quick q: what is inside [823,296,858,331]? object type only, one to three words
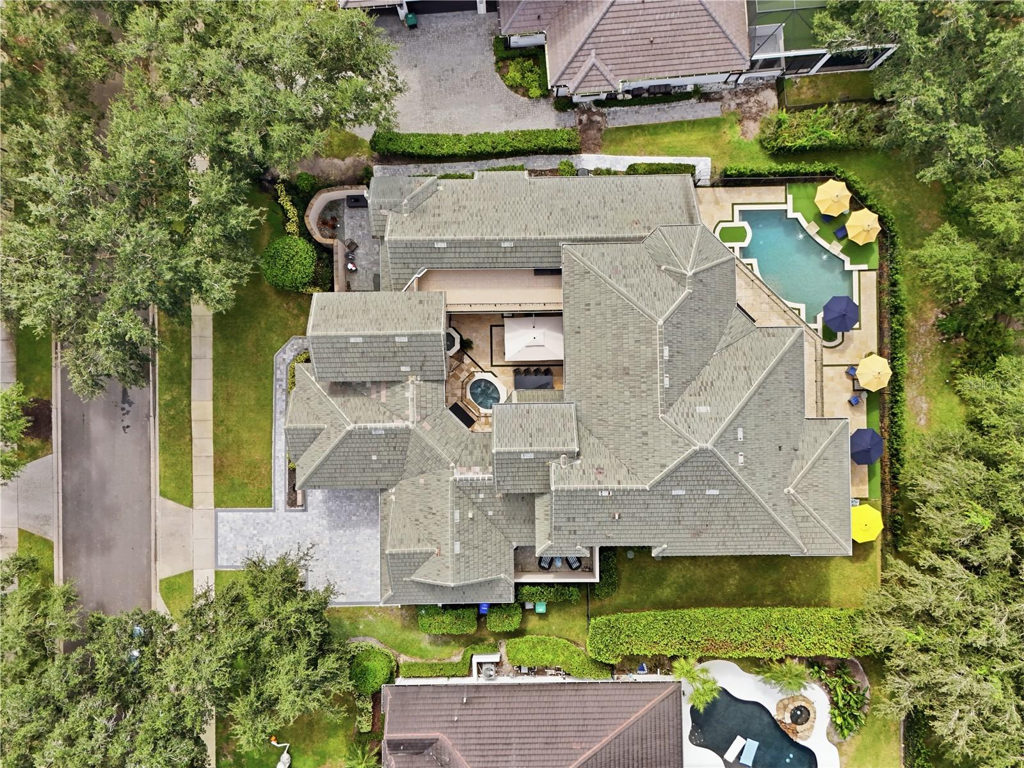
umbrella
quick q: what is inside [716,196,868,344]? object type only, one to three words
swimming pool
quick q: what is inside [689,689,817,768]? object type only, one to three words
swimming pool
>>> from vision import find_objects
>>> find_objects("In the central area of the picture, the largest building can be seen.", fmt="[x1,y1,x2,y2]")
[284,169,853,606]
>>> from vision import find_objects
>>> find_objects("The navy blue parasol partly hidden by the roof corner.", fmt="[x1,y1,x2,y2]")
[851,429,883,464]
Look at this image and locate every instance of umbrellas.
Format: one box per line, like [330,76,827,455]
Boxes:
[852,502,885,544]
[504,304,563,359]
[854,353,893,392]
[851,429,883,464]
[844,209,882,245]
[813,179,851,217]
[823,296,858,331]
